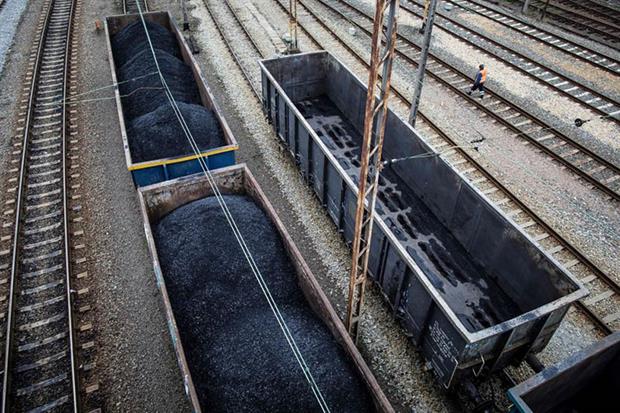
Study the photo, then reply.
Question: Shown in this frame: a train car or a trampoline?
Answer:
train car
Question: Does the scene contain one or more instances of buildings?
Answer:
No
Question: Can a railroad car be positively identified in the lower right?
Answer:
Yes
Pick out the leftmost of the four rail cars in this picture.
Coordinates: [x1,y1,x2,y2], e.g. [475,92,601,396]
[104,10,239,227]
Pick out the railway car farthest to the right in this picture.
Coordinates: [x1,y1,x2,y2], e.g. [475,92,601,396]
[493,332,620,413]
